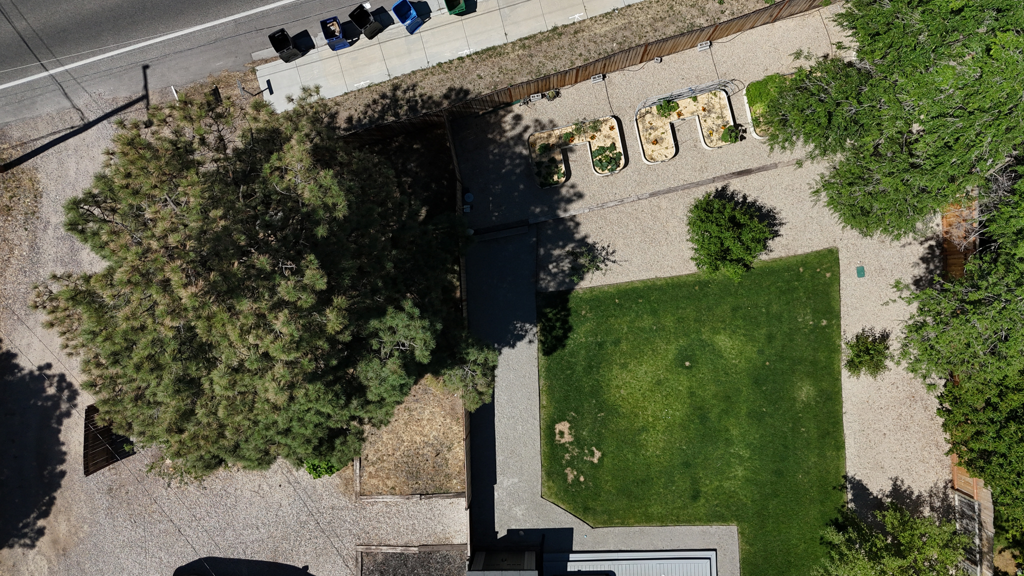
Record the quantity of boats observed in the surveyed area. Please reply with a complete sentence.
The photo contains no boats.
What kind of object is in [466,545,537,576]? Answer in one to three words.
shed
